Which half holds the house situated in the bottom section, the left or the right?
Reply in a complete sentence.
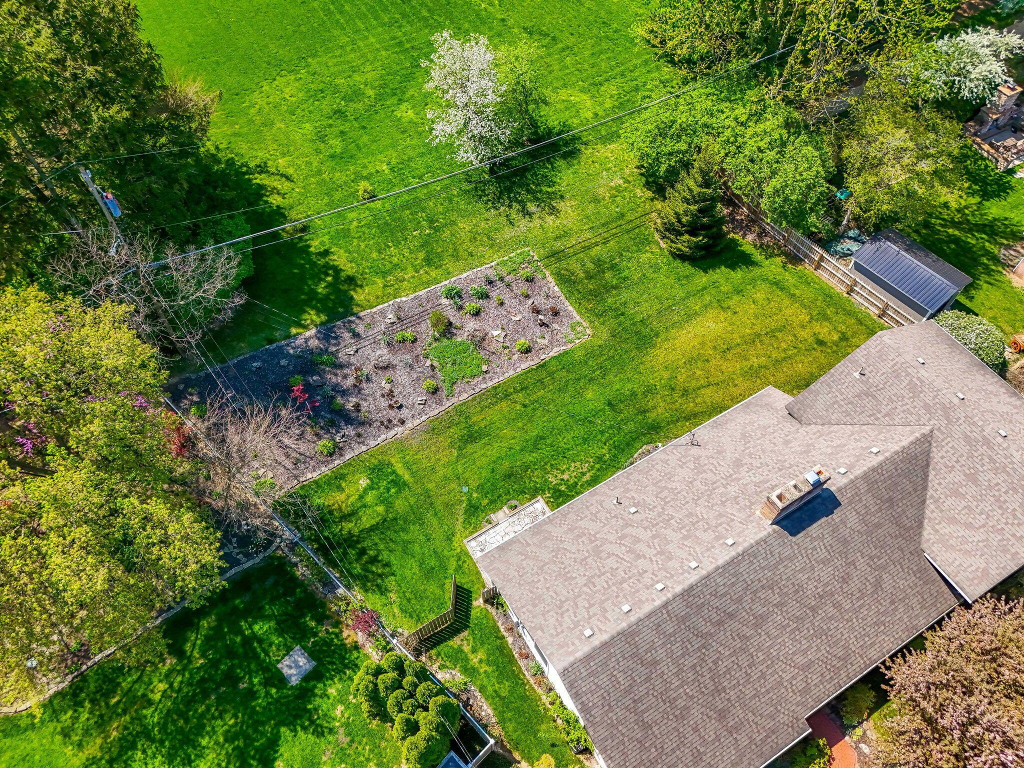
It is on the right.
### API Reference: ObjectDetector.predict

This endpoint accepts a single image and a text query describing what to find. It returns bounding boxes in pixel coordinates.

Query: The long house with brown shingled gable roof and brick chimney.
[476,314,1024,768]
